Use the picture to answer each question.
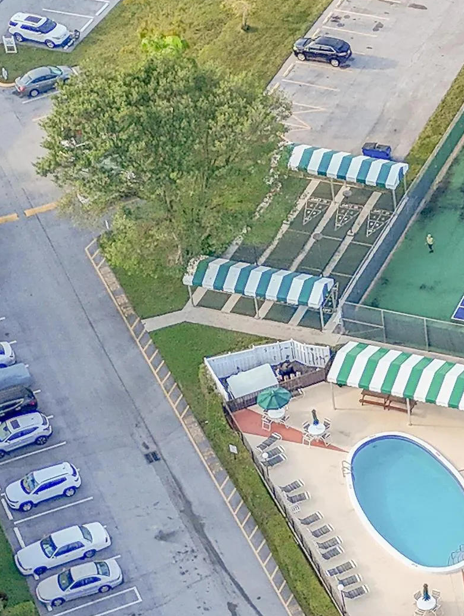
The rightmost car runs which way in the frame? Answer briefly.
horizontally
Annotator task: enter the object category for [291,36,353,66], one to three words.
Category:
car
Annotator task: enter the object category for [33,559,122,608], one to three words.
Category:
car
